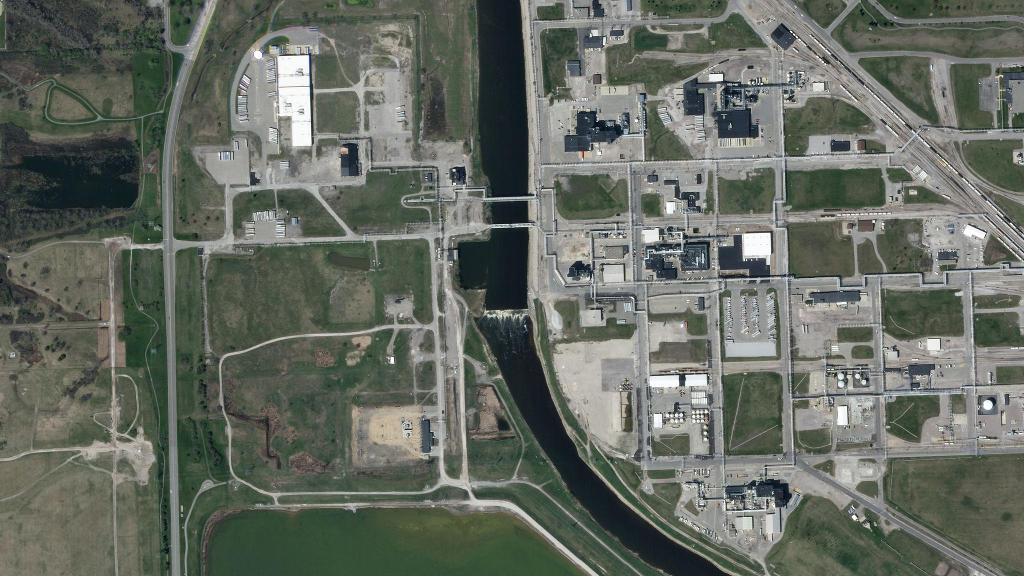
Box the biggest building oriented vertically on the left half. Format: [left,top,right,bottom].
[277,55,311,146]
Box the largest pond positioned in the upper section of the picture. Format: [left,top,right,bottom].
[3,146,139,209]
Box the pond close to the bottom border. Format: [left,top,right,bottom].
[203,507,586,576]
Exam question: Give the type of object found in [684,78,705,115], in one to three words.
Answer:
building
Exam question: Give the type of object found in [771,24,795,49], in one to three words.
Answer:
building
